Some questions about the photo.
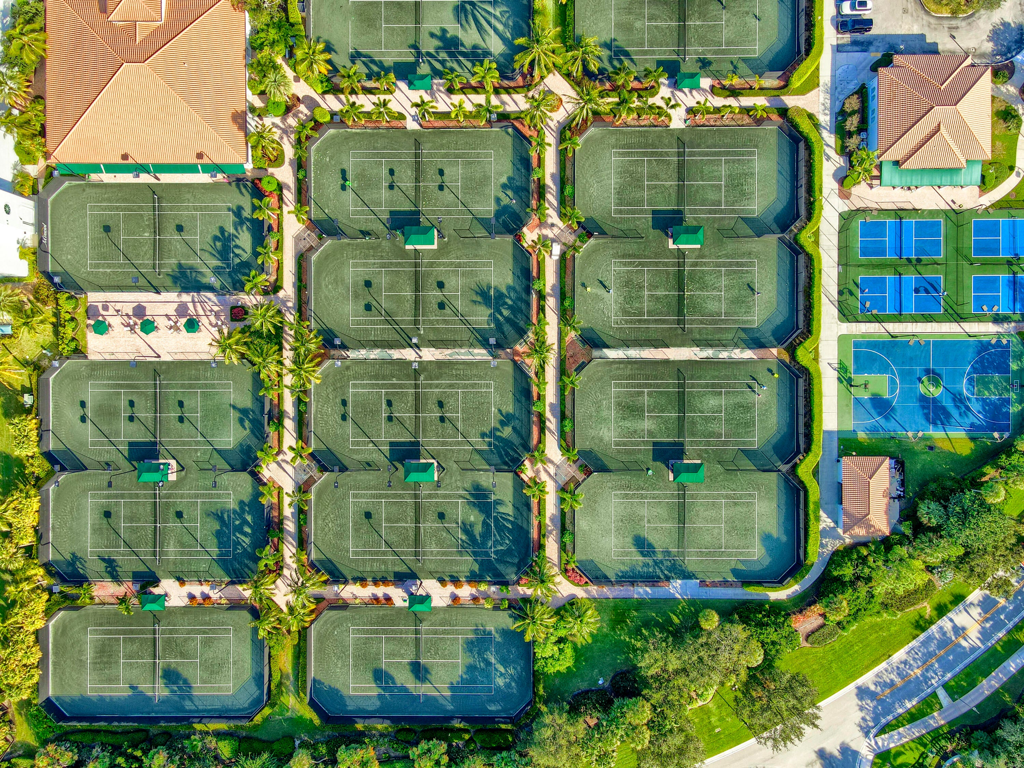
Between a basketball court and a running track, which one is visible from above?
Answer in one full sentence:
It is a basketball court that can be seen here.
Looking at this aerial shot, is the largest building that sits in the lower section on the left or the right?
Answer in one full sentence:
It is on the right.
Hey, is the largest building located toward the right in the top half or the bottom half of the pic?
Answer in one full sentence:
You can find the largest building located toward the right in the top half.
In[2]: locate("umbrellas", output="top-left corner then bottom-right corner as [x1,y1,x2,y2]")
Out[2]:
[141,319,156,335]
[184,319,200,333]
[93,319,109,335]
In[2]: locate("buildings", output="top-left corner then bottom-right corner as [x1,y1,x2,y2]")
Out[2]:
[868,54,992,191]
[838,456,890,536]
[45,0,251,178]
[0,187,37,292]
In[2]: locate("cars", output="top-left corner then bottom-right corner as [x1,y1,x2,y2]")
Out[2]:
[838,19,873,36]
[840,0,871,15]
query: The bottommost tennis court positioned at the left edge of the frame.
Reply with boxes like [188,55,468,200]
[50,606,264,716]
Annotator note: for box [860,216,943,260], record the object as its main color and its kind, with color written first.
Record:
blue sports court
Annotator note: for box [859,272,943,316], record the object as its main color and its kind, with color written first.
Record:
blue sports court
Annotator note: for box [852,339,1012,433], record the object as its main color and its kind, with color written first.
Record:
blue basketball court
